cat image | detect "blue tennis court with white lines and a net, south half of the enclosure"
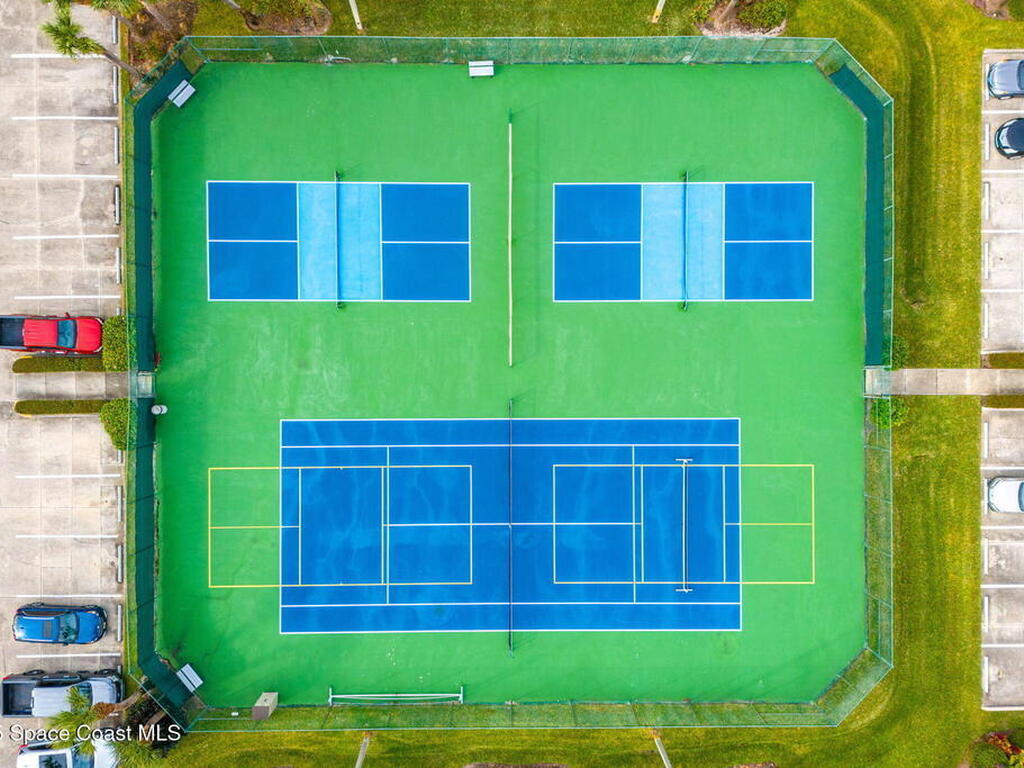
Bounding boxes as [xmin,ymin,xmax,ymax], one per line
[280,418,742,634]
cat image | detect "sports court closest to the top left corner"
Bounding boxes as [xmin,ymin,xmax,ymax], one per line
[206,181,471,302]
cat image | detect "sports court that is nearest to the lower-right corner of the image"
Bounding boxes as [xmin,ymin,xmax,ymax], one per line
[553,464,815,584]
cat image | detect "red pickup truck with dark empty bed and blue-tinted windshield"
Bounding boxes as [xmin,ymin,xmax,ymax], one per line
[0,310,106,353]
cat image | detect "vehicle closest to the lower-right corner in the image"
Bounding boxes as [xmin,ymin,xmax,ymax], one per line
[986,477,1024,514]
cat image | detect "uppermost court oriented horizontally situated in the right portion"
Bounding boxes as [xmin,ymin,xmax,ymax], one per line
[553,182,814,302]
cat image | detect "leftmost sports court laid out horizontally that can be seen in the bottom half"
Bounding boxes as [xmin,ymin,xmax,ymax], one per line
[208,465,472,588]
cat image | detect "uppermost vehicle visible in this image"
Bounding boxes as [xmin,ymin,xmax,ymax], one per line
[984,58,1024,103]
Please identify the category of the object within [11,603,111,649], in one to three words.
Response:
car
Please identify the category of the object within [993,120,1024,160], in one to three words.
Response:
car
